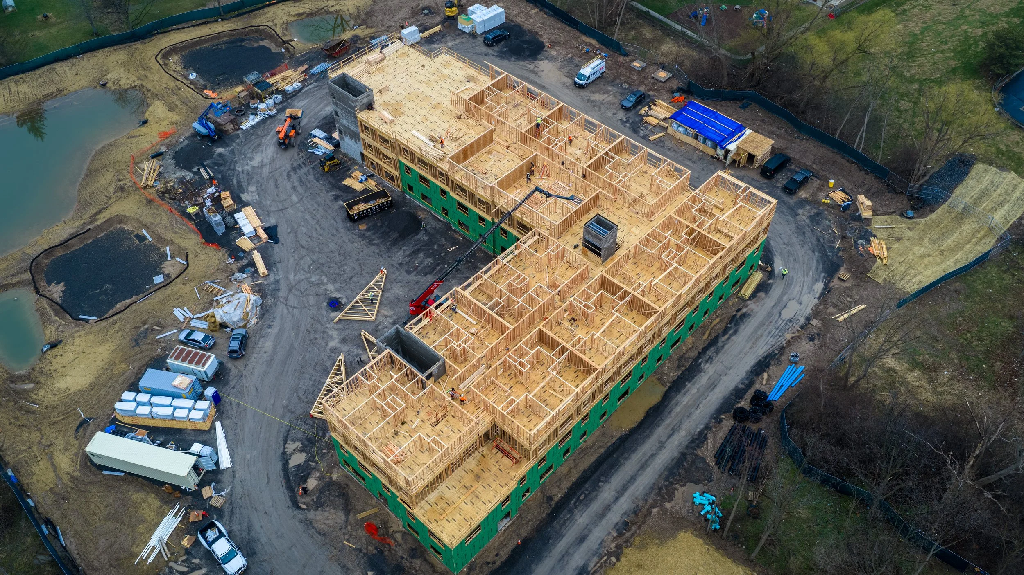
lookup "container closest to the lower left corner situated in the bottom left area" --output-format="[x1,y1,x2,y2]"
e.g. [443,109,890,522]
[84,430,209,488]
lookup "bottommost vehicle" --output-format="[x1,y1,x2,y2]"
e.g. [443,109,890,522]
[203,520,246,575]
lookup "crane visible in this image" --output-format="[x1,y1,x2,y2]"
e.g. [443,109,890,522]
[398,184,582,331]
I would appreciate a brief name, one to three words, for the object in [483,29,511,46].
car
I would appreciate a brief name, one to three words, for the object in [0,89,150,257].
pond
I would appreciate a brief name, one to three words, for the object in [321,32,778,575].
building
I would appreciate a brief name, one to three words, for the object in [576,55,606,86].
van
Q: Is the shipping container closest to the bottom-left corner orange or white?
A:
white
